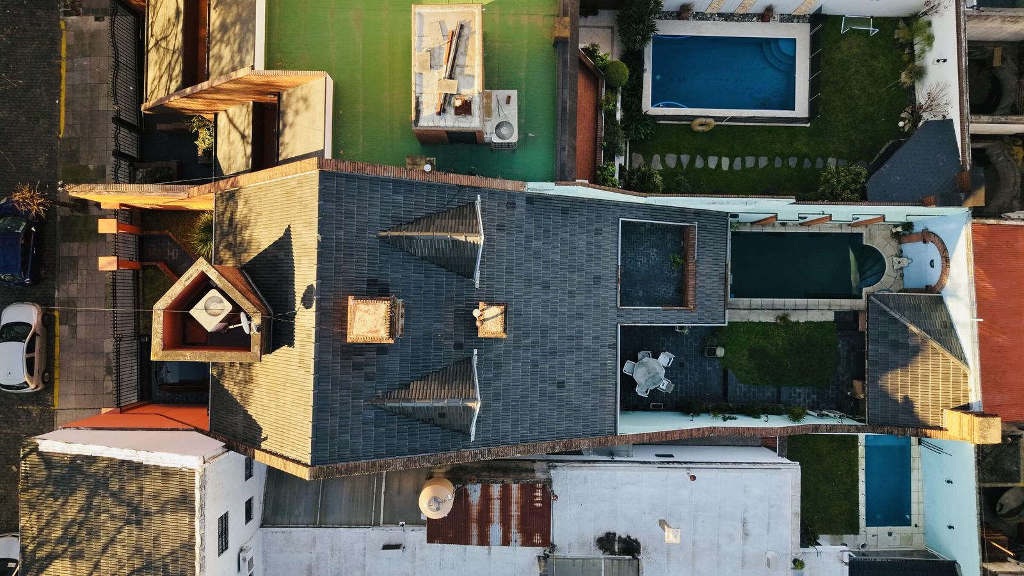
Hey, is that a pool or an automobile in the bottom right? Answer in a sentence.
The feature located in the bottom right is a pool.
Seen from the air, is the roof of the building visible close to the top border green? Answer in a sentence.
Yes, the roof of the building visible close to the top border is green.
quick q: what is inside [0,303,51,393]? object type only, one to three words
car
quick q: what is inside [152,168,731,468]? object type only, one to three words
house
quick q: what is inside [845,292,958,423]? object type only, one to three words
building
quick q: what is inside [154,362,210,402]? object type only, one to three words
car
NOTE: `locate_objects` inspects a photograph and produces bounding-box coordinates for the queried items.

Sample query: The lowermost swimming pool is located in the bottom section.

[818,434,925,549]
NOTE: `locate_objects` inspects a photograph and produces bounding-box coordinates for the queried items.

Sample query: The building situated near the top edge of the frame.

[145,0,579,187]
